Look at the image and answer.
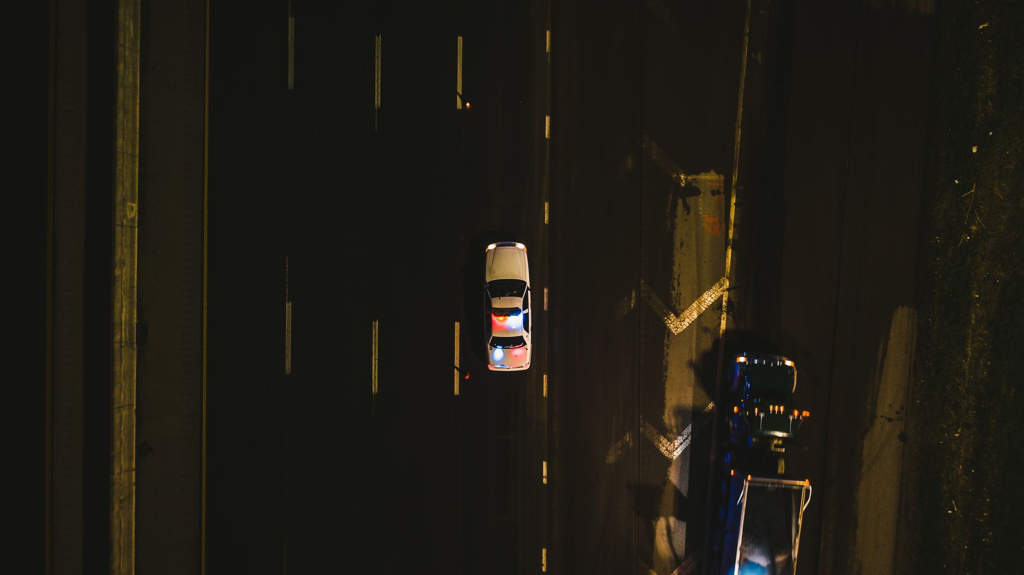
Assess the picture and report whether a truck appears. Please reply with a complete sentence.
Yes, looking at the shot, I can spot a truck.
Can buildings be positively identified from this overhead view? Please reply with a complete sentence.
No, there appears to be no building in this shot.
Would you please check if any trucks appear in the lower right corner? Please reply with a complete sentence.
Yes, a truck appears in the lower right corner.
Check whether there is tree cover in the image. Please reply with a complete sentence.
No, there's no tree cover in this view.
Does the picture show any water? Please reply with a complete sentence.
No, no water is visible.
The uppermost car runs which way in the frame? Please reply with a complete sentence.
The uppermost car is oriented from top to bottom.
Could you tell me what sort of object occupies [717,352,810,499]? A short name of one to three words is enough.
truck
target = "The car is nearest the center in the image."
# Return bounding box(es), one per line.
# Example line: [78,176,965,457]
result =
[481,242,534,372]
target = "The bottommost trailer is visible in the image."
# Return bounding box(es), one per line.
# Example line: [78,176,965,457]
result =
[716,466,813,575]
